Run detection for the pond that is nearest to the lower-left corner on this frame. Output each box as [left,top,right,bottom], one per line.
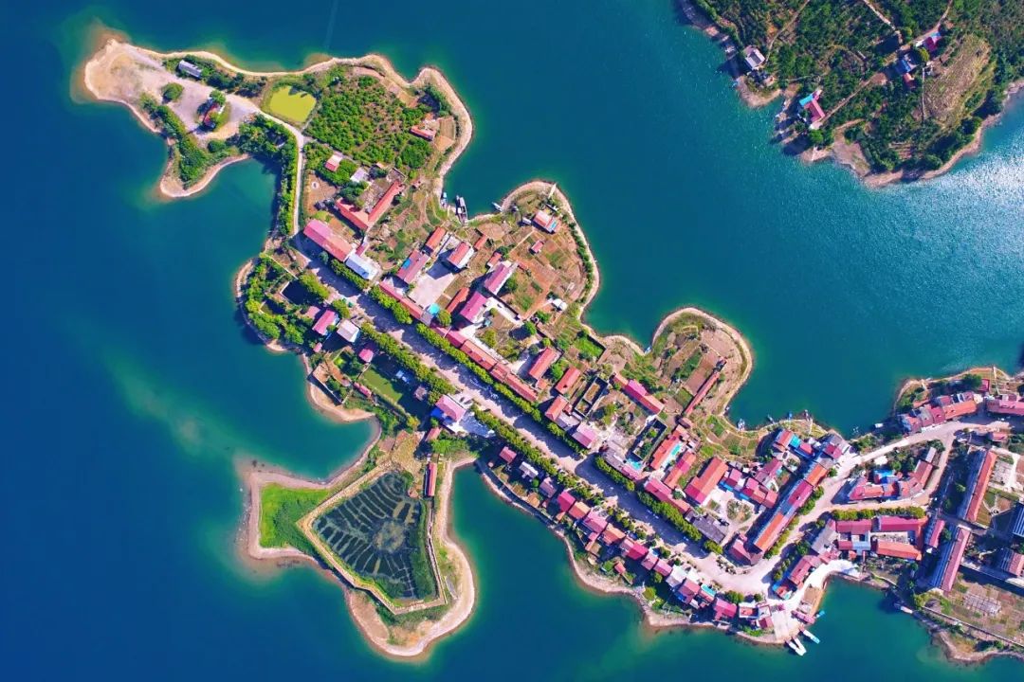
[298,462,447,615]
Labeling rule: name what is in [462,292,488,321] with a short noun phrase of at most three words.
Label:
house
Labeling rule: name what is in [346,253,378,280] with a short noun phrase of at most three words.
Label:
building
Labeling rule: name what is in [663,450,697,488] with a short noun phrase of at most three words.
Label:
house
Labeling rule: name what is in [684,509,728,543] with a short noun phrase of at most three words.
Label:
building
